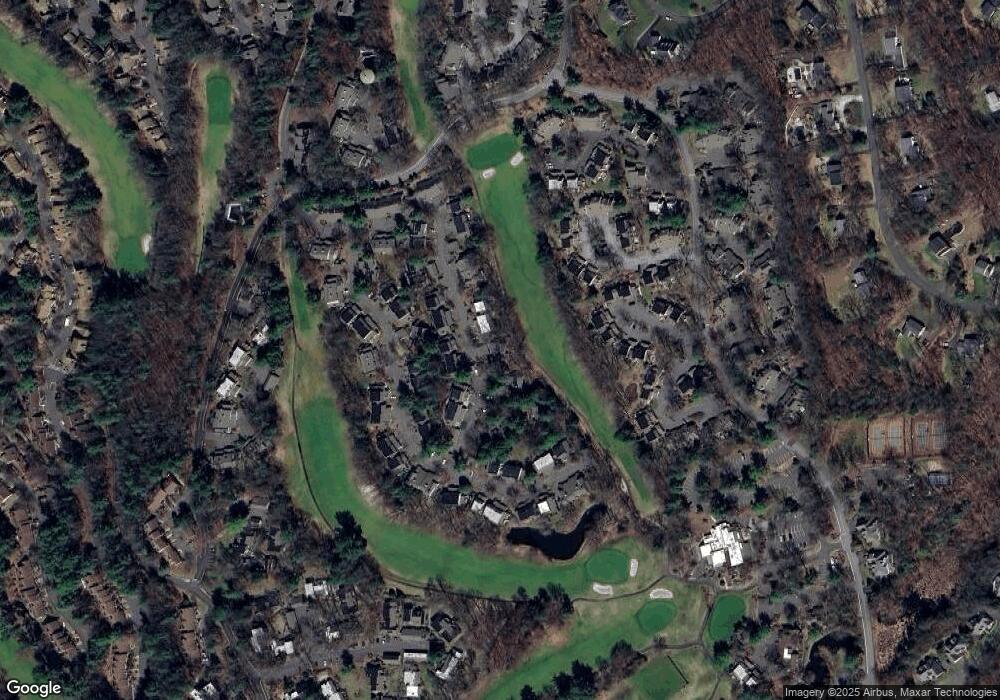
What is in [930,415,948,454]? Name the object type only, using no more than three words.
tennis court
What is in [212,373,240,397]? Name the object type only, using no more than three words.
house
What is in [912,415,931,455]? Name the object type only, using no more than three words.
tennis court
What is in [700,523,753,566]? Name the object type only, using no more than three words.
building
